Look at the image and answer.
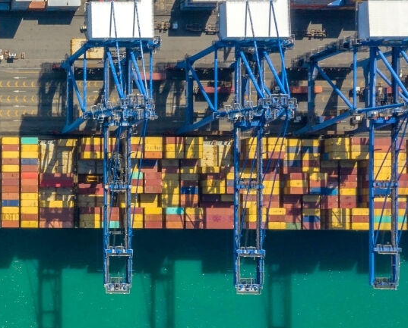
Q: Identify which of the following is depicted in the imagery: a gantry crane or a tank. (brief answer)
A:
gantry crane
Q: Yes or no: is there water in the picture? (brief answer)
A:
Yes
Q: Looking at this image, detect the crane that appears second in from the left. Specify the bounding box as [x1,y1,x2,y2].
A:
[158,0,298,293]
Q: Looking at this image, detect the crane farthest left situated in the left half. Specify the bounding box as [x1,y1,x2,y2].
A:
[45,0,157,292]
